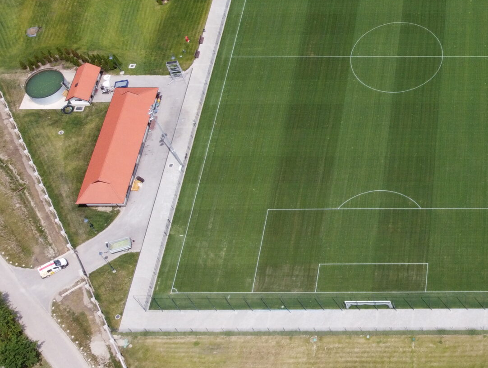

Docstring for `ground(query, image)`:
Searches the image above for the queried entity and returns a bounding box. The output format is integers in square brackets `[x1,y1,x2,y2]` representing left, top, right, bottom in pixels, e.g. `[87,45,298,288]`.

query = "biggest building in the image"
[76,87,161,206]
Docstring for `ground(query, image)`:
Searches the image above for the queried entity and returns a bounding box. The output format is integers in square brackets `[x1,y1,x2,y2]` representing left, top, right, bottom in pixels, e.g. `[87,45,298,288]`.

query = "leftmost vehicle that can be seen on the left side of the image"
[34,257,69,279]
